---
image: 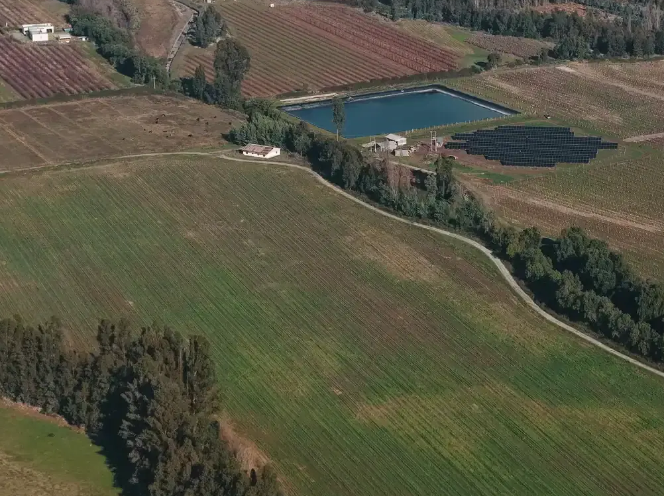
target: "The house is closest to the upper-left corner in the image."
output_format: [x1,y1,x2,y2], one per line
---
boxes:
[21,19,59,41]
